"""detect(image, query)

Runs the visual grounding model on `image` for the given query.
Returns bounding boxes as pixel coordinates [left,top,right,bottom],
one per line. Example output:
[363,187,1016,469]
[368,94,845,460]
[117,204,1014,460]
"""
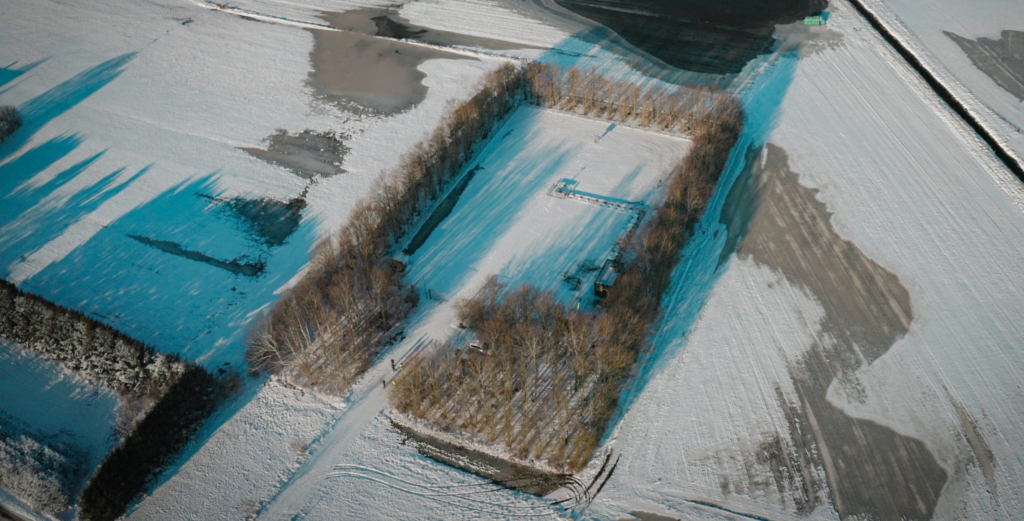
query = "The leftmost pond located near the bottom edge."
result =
[393,422,571,496]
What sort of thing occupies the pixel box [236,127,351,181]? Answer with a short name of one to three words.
pond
